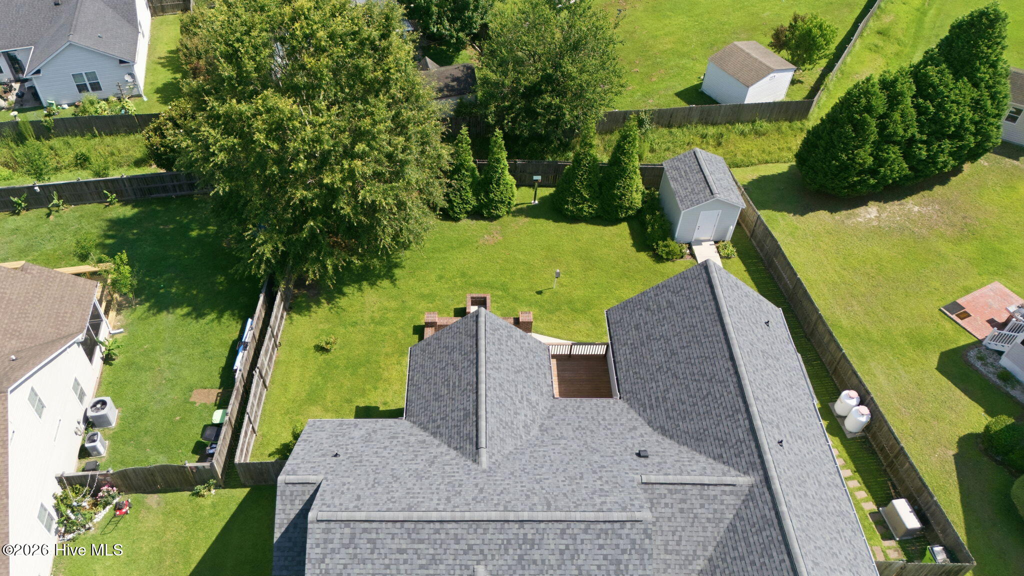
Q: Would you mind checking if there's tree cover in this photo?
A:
Yes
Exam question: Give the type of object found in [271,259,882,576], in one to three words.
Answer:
house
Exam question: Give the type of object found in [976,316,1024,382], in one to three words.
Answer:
house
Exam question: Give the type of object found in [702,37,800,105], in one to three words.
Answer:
shed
